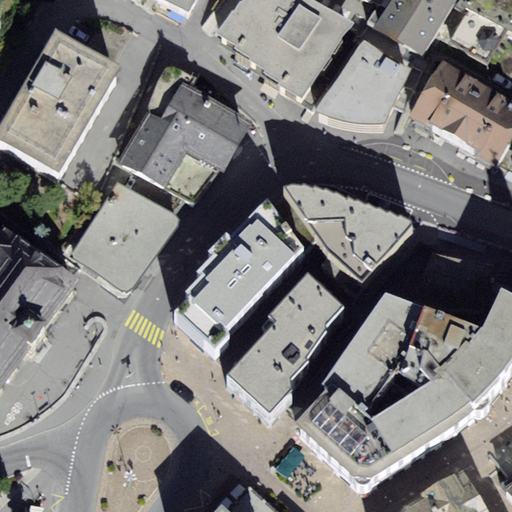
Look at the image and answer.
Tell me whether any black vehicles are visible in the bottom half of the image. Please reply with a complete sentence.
Yes, a black vehicle is visible in the bottom half of the image.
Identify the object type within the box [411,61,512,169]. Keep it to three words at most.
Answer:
house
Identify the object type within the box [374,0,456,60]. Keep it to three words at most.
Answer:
house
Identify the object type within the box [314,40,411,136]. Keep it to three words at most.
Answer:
building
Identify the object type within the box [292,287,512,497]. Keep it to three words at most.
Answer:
building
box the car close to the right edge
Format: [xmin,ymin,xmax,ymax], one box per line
[490,72,512,92]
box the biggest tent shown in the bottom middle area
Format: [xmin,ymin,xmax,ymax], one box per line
[276,448,305,480]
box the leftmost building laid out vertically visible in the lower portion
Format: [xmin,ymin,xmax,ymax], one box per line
[0,226,84,406]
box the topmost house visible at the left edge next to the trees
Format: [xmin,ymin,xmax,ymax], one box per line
[0,28,122,181]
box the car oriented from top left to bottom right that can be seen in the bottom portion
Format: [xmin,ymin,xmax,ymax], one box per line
[168,379,196,404]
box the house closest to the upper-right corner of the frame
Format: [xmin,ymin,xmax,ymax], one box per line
[445,5,510,68]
